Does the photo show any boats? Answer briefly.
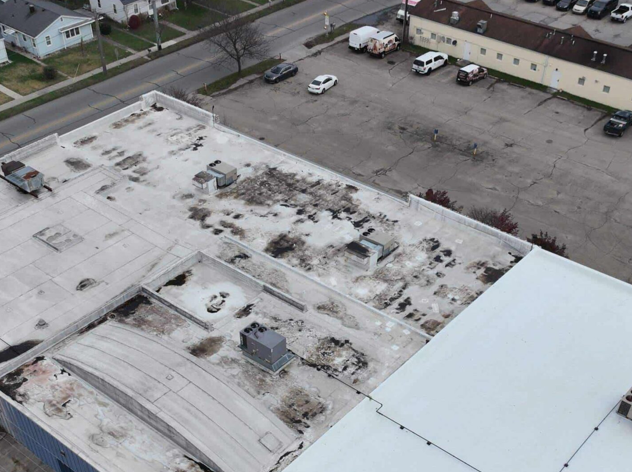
No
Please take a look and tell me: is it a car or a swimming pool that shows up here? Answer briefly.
car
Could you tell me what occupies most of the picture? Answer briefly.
buildings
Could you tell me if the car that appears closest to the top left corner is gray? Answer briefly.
Yes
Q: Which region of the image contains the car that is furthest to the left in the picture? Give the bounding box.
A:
[264,62,300,83]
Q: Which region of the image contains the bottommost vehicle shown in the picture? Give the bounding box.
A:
[602,108,632,133]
